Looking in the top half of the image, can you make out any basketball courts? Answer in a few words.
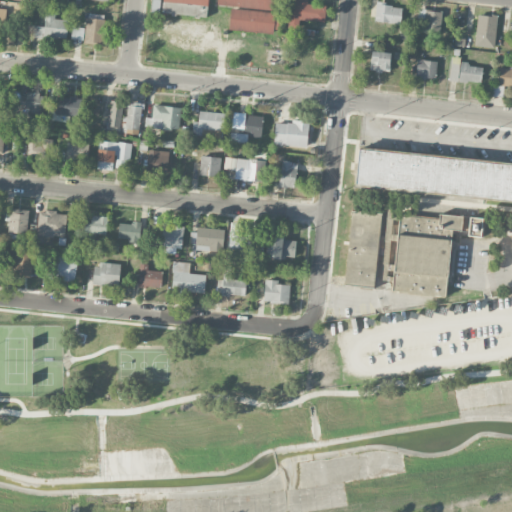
No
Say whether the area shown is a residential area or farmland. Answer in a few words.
residential area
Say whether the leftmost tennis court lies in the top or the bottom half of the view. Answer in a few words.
bottom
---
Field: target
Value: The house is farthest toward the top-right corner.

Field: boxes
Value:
[475,14,500,48]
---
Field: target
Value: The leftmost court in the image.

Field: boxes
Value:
[0,326,34,396]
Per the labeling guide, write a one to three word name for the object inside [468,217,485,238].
building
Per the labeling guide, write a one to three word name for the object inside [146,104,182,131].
house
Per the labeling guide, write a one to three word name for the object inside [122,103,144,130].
house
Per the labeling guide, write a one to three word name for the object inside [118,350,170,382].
basketball court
